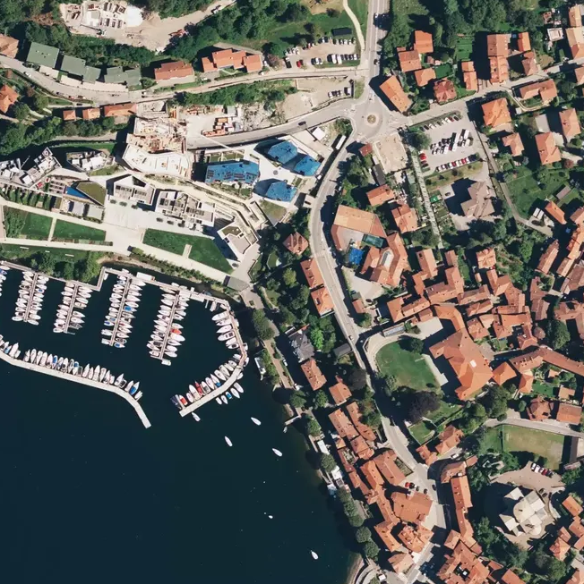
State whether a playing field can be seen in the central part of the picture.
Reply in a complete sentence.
No, I can find no playing field in the central part of the picture.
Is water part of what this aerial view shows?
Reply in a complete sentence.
Yes, water can be seen from above here.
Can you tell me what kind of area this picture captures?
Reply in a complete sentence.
It's a residential area.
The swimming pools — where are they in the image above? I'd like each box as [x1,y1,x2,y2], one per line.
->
[67,187,87,198]
[363,236,383,247]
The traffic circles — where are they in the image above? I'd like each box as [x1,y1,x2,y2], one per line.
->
[351,99,392,138]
